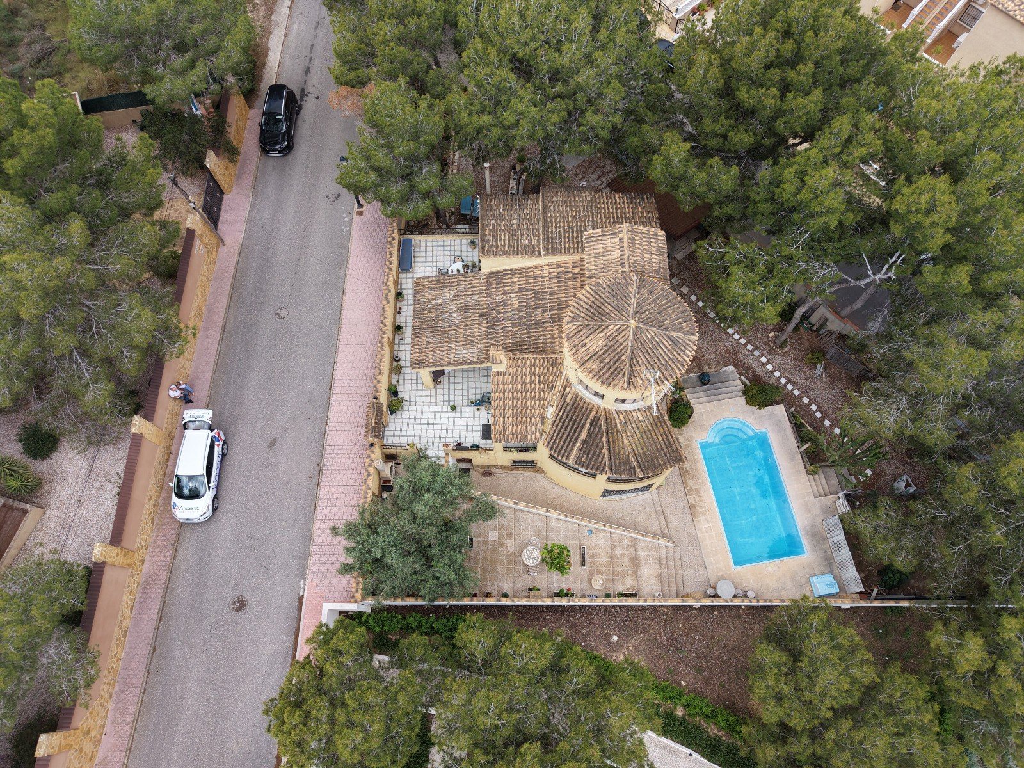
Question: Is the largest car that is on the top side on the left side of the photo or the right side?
left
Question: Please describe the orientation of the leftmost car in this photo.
from top to bottom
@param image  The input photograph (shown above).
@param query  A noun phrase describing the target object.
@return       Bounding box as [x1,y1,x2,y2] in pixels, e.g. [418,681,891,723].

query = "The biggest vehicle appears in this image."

[161,404,223,528]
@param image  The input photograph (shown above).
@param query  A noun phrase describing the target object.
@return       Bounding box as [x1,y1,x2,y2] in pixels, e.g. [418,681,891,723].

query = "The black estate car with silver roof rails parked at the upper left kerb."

[252,74,302,155]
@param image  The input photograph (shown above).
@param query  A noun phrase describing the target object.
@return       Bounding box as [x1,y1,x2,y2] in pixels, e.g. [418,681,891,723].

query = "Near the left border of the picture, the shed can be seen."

[0,496,53,579]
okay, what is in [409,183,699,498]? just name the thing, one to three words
house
